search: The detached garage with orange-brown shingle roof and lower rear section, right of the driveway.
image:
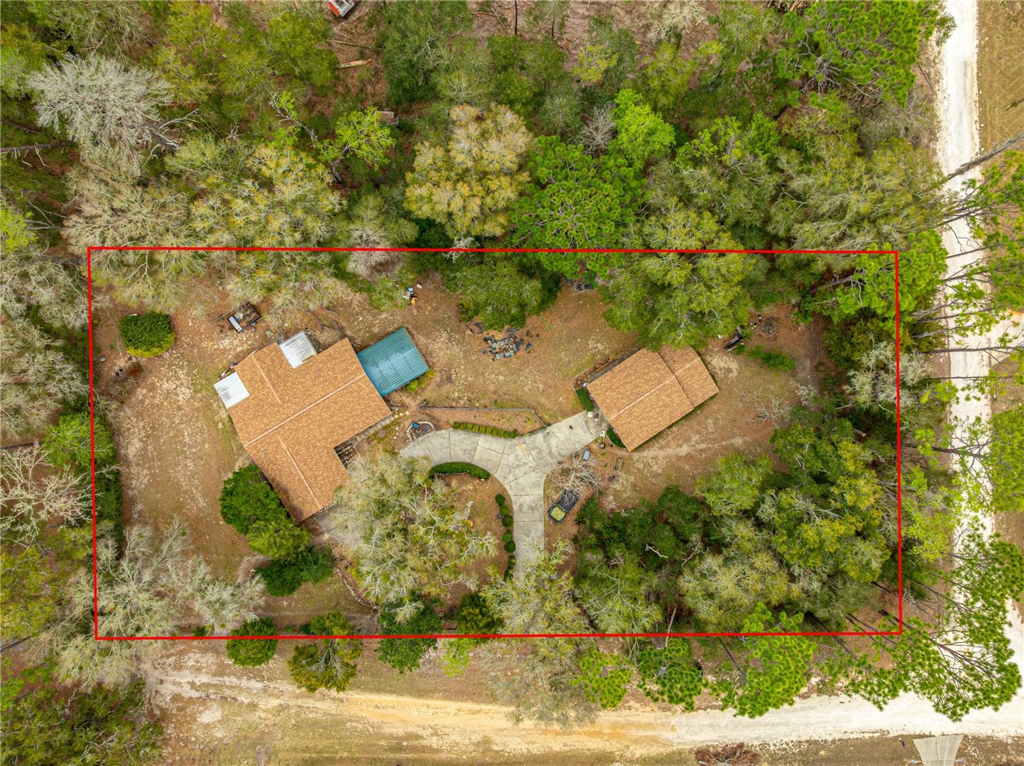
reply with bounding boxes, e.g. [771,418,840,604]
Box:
[585,337,719,452]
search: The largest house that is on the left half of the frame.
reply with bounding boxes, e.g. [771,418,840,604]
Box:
[228,339,390,521]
